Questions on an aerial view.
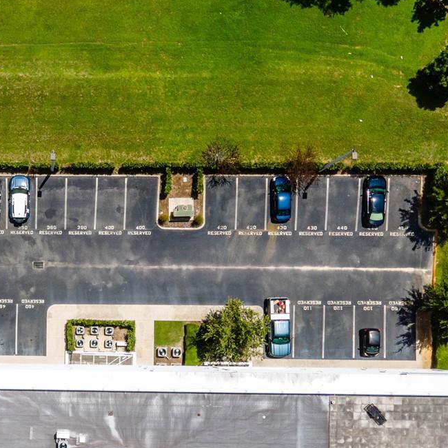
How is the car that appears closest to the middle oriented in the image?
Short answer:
from top to bottom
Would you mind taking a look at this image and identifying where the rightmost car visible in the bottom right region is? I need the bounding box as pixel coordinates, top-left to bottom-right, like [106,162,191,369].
[356,326,382,358]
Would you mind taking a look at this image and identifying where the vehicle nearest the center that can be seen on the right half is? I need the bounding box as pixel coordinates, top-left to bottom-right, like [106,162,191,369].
[267,172,295,227]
